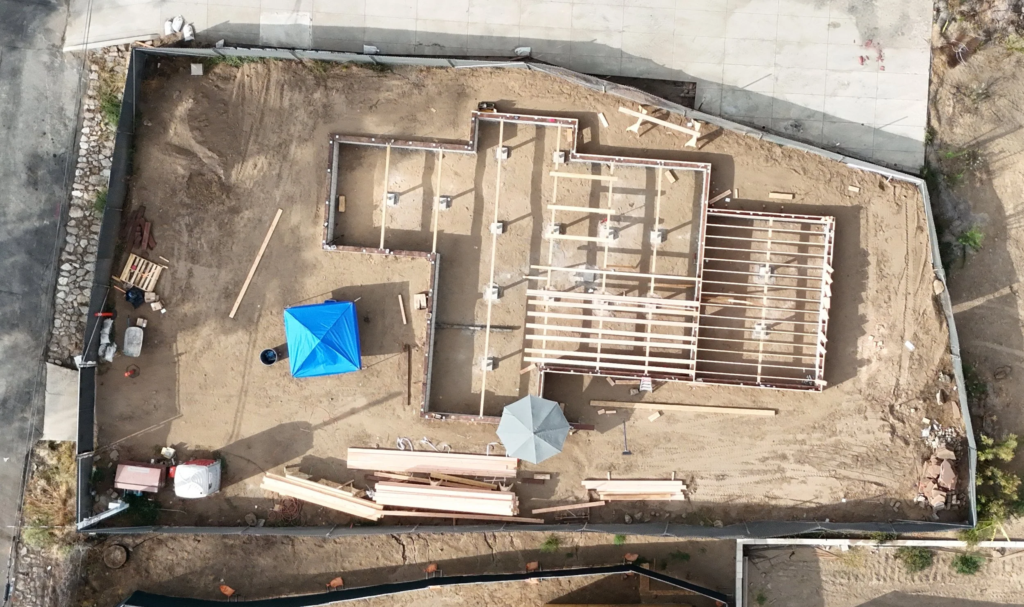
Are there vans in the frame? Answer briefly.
No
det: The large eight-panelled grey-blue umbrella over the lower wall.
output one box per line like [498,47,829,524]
[497,395,570,464]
